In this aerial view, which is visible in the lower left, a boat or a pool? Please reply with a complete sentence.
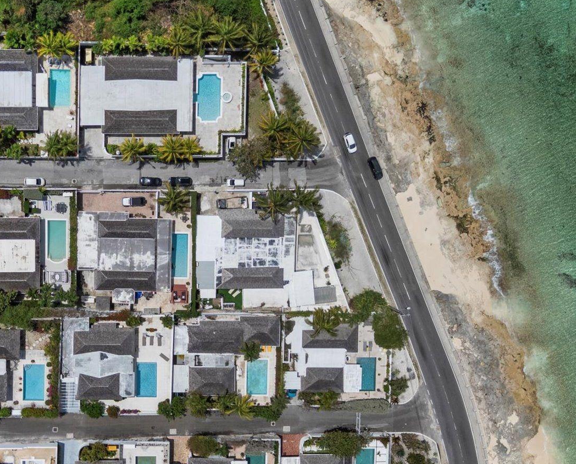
It is a pool that can be seen in the lower left.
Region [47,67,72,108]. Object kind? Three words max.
swimming pool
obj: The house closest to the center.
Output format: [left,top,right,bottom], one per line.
[195,209,315,309]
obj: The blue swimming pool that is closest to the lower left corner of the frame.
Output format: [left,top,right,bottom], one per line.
[22,363,46,402]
